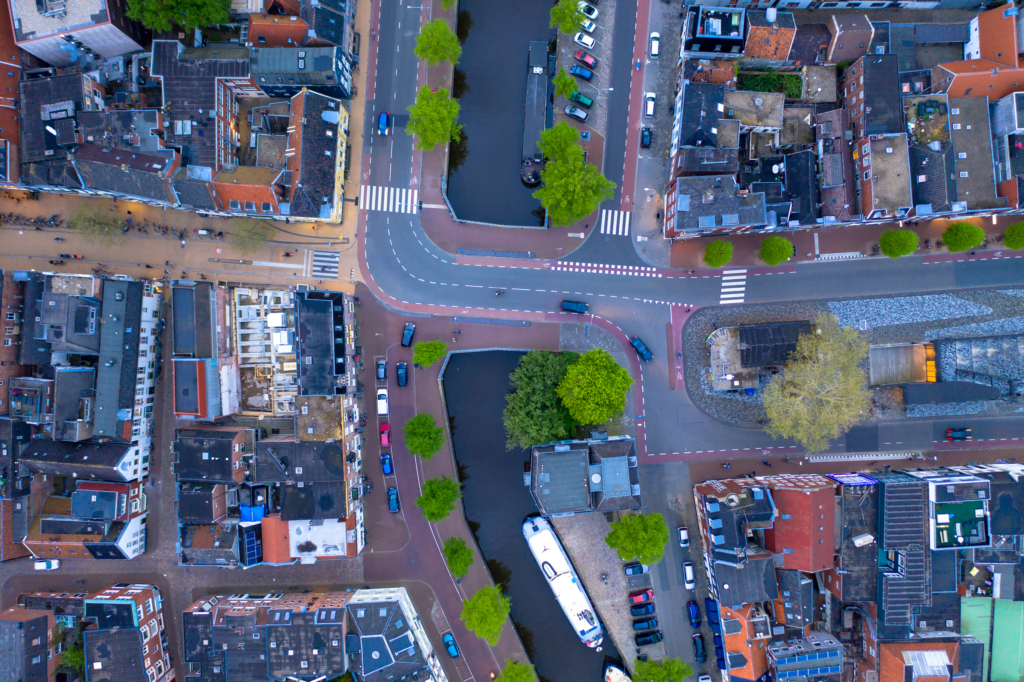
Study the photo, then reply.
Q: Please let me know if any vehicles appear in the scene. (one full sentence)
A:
Yes, there is a vehicle in the image.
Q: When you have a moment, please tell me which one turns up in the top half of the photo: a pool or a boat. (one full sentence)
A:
Visible in the top half of the photo is a boat.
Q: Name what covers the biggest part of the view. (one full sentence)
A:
The scene is dominated by buildings.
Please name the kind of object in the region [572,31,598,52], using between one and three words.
car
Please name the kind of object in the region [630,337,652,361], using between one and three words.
car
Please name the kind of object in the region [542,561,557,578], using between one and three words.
boat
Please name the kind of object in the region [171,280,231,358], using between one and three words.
house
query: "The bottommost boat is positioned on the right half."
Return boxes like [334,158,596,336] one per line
[602,661,633,682]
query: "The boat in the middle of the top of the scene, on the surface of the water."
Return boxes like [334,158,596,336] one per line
[521,41,549,186]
